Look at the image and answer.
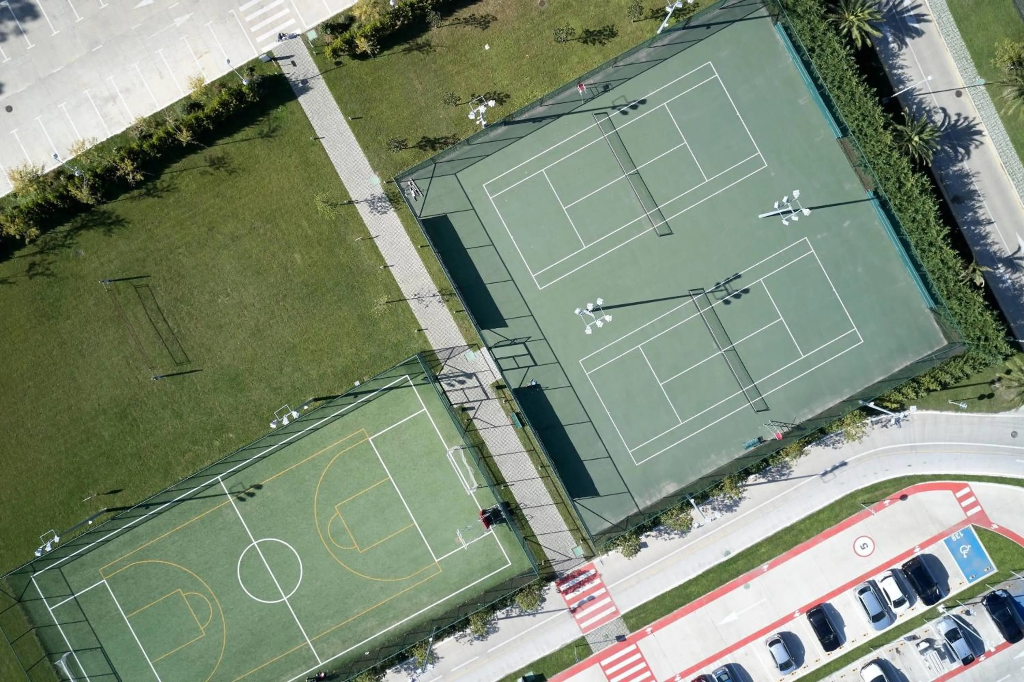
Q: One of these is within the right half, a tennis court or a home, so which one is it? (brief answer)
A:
tennis court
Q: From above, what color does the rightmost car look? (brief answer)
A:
black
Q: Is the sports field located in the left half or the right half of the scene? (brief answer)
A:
left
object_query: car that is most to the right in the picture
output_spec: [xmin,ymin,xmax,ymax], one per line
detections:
[982,590,1024,646]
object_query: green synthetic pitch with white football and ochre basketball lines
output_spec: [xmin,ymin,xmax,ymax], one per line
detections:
[4,350,537,682]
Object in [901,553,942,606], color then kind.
black car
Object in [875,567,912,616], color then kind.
white car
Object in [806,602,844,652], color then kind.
black car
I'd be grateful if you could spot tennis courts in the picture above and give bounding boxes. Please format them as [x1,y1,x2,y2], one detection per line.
[399,0,852,360]
[497,166,949,537]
